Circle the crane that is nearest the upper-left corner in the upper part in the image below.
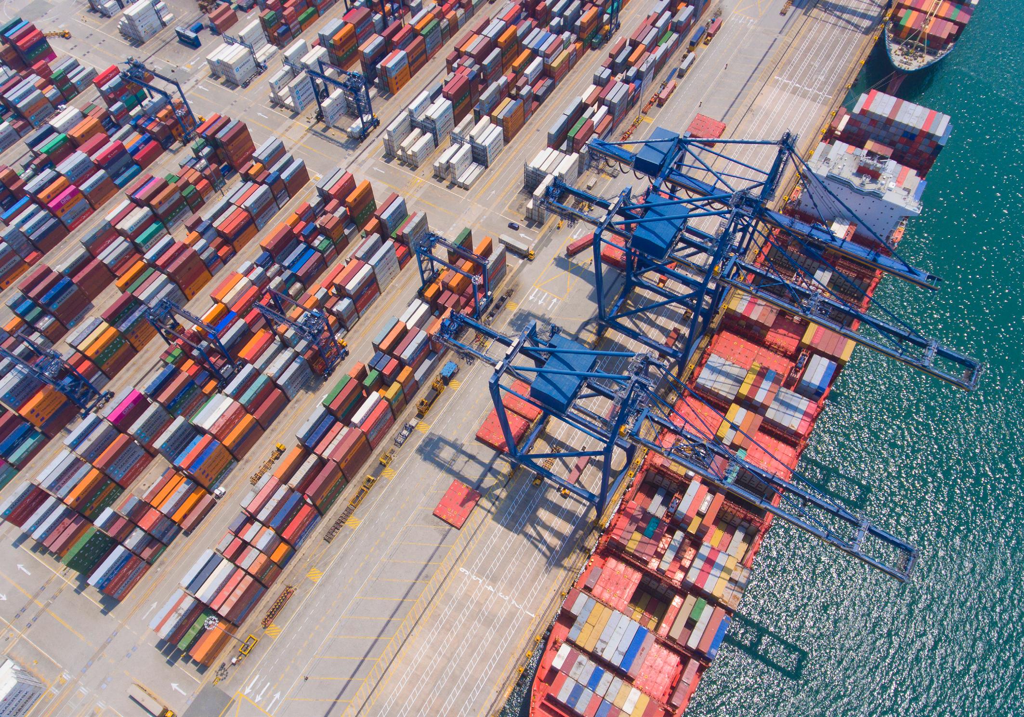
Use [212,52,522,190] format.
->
[121,61,205,141]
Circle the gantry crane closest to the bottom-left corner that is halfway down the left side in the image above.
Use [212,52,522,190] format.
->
[0,326,111,420]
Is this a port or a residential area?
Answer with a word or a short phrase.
port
